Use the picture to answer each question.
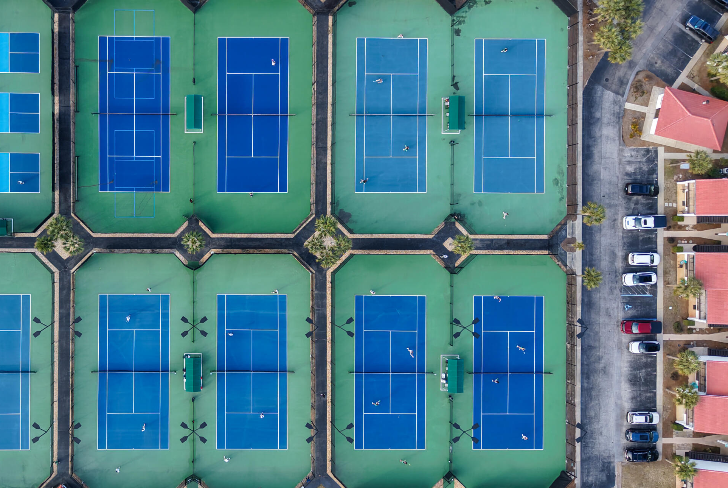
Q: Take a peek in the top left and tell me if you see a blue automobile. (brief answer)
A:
No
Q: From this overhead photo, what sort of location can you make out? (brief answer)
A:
sports ground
